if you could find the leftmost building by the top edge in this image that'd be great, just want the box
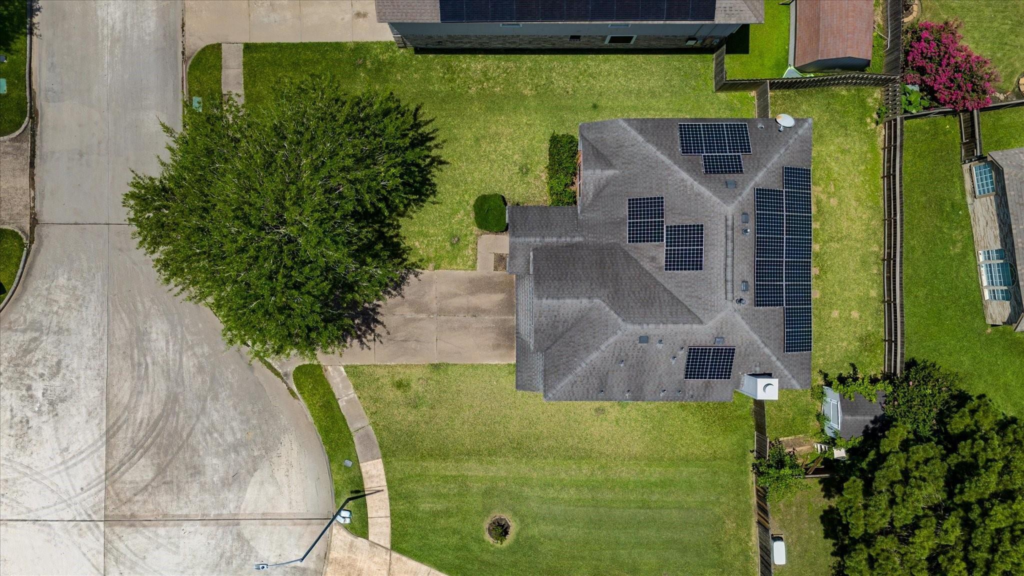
[377,0,764,49]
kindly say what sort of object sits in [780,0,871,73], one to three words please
shed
